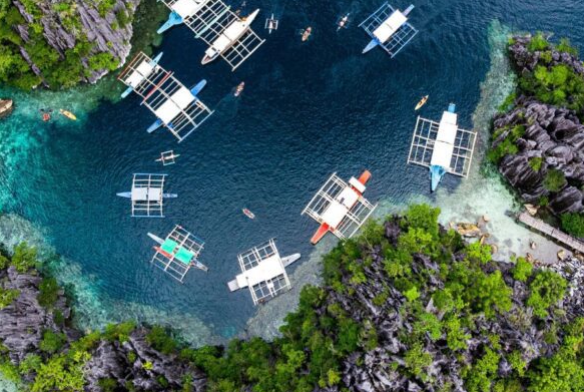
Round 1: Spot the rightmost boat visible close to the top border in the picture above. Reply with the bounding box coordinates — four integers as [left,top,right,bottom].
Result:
[358,1,419,59]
